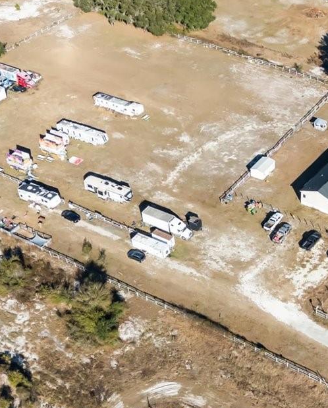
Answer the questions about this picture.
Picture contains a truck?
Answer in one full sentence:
Yes, there's a truck here.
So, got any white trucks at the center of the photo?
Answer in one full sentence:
Yes, I can see a white truck at the center of the photo.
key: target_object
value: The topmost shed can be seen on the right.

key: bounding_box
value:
[249,155,277,180]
